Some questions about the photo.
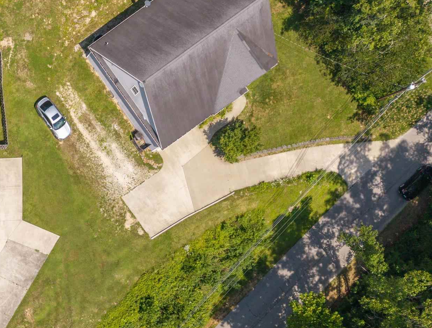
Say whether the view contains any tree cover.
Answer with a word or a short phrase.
Yes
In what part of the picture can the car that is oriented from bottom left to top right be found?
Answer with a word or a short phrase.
right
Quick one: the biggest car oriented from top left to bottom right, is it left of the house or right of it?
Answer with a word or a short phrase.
to the left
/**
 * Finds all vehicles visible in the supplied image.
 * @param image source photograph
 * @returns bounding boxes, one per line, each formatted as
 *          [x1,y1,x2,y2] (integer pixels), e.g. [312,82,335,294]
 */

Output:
[35,97,70,144]
[396,159,432,202]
